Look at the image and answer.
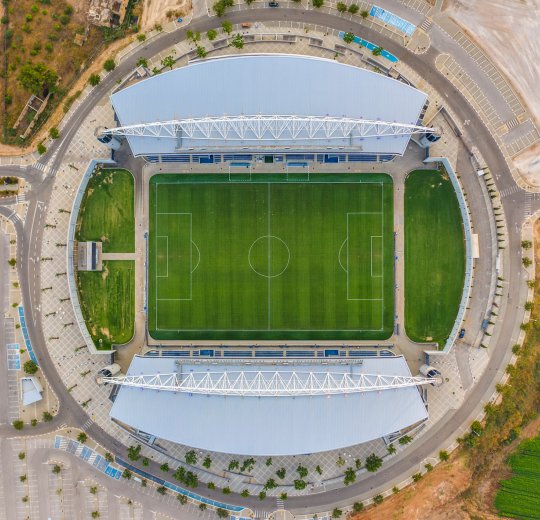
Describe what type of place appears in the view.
sports ground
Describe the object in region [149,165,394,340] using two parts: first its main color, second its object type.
green soccer field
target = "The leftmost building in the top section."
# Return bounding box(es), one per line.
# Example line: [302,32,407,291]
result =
[13,93,49,137]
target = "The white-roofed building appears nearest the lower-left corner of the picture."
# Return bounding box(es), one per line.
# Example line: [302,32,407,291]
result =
[22,378,43,405]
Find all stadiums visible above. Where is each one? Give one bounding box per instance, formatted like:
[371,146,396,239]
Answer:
[66,54,472,456]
